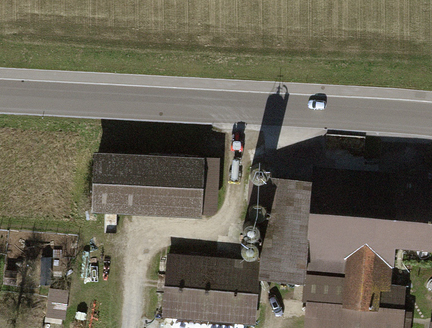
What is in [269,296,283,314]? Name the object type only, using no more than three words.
car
